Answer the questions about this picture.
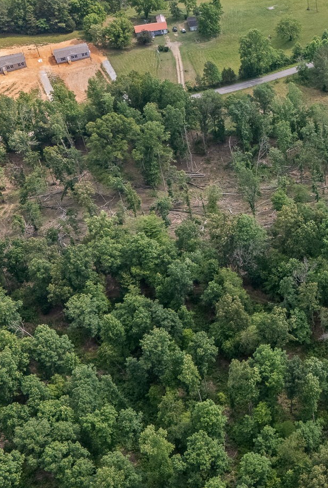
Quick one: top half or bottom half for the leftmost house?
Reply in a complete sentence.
The leftmost house sits in the top half of the picture.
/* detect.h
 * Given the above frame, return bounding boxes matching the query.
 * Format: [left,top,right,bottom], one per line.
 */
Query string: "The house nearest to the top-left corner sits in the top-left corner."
[0,54,28,75]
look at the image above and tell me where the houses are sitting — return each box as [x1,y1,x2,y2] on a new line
[52,44,91,64]
[0,54,28,75]
[135,15,167,36]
